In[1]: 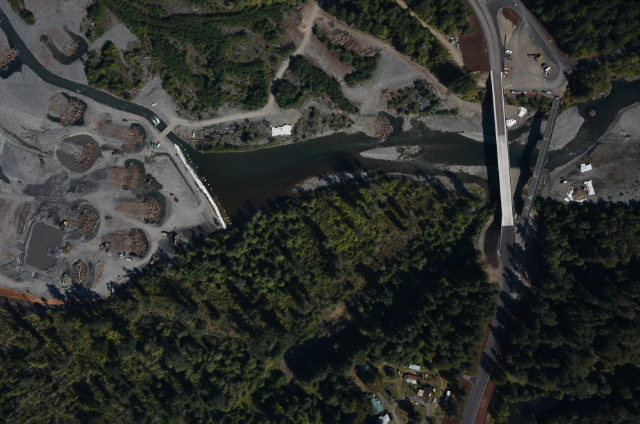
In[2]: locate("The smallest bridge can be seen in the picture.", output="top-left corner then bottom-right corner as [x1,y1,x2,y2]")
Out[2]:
[517,96,559,222]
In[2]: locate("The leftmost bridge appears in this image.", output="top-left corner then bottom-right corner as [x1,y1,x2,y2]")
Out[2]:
[491,73,514,226]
